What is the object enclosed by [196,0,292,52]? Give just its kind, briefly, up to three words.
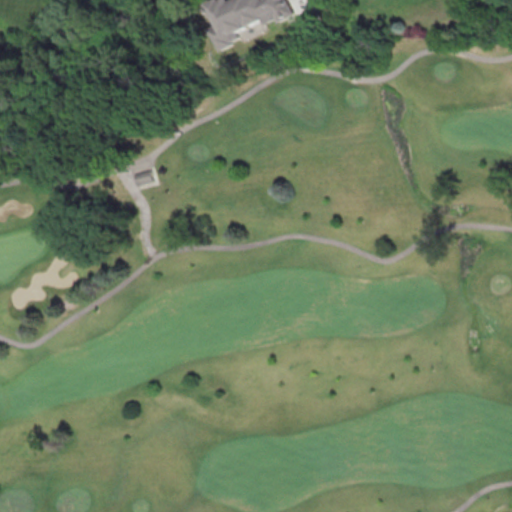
building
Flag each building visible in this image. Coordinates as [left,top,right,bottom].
[133,169,154,186]
[196,0,292,52]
